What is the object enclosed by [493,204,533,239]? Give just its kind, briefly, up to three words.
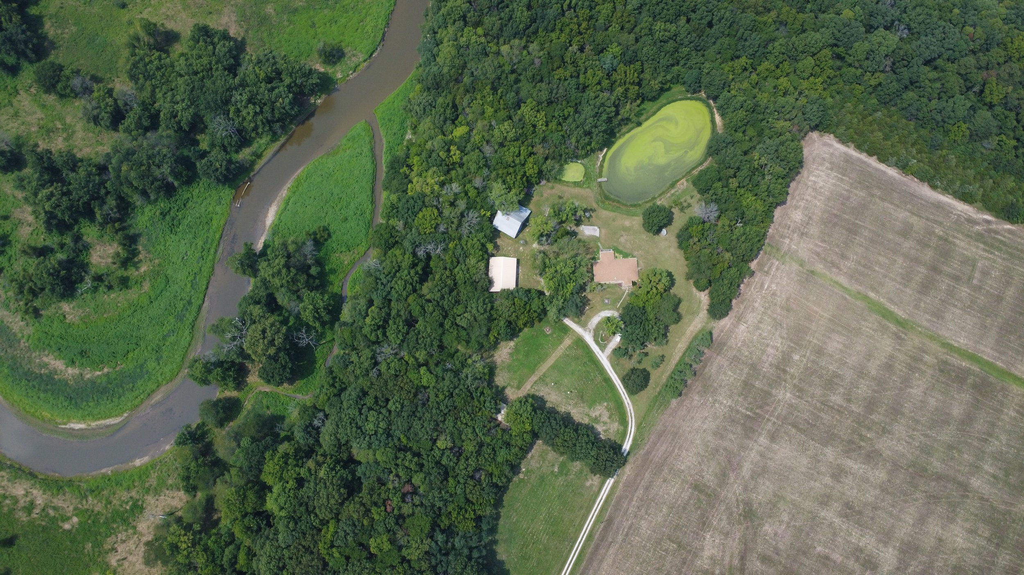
barn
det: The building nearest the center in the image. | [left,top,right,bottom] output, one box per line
[488,257,515,292]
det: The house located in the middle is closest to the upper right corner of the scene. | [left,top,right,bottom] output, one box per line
[593,247,639,290]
